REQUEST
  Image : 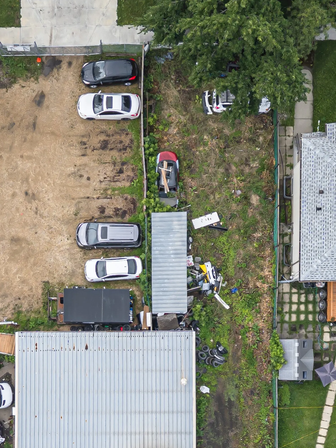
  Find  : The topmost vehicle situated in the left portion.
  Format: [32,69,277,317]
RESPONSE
[82,56,139,88]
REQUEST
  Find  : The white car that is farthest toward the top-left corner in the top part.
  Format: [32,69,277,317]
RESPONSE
[78,90,141,122]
